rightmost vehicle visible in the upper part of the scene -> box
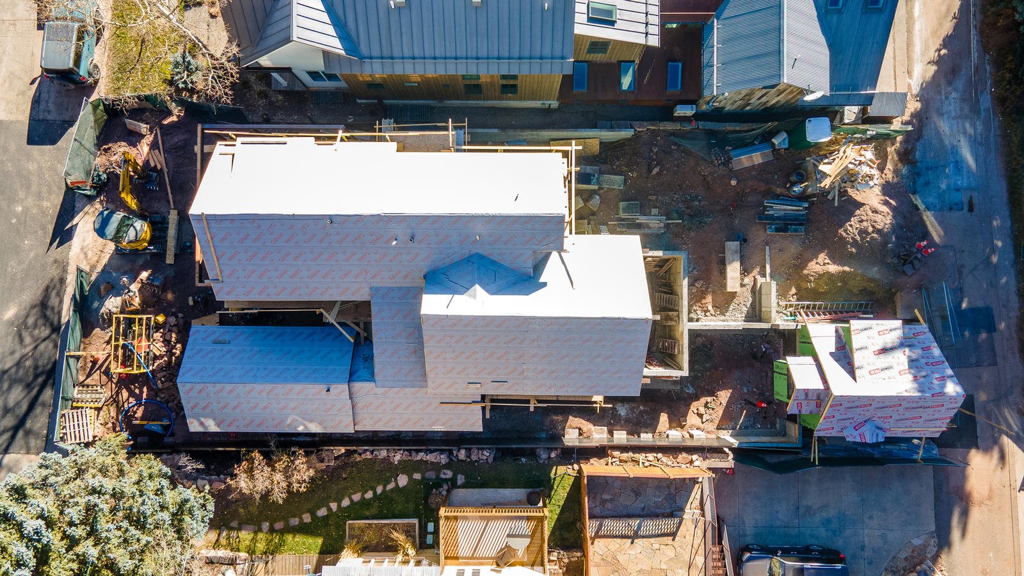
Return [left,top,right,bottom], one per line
[94,152,180,259]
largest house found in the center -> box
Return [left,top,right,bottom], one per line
[177,132,653,432]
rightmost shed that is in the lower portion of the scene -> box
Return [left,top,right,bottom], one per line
[773,307,964,443]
